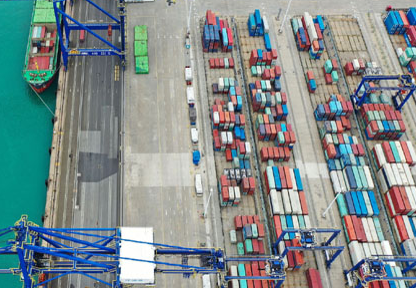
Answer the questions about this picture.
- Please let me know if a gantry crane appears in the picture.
Yes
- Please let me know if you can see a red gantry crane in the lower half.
No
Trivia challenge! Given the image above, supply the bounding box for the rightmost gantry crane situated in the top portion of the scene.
[350,73,416,113]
